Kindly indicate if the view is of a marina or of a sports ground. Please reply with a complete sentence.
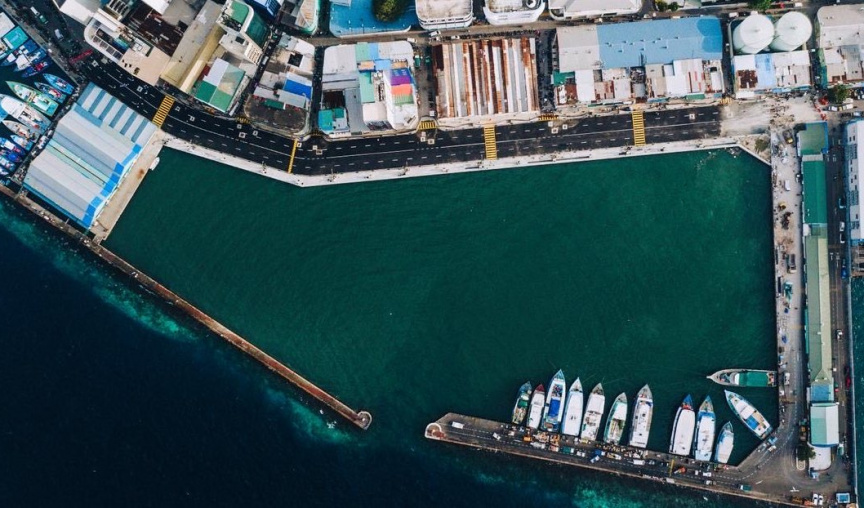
This image shows a marina.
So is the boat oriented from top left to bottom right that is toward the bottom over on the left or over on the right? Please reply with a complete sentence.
It is on the right.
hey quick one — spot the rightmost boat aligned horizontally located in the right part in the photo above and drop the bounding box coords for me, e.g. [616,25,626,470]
[702,370,777,386]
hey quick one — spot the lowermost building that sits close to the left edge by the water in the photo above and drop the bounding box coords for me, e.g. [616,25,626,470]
[23,81,162,228]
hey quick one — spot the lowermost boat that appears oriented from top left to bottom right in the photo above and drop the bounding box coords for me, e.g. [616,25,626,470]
[721,386,771,436]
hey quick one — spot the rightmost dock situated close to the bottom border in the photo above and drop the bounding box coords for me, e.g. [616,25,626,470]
[424,412,745,496]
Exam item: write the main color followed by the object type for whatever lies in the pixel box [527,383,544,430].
white boat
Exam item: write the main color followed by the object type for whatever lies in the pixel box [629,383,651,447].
white boat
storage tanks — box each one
[732,14,775,55]
[768,10,813,53]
